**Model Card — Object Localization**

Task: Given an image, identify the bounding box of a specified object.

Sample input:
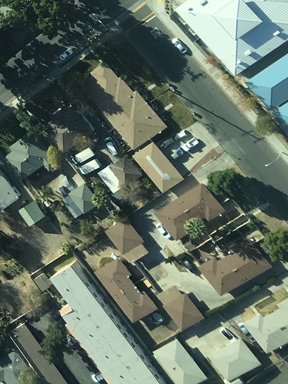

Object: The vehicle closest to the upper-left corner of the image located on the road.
[59,48,74,61]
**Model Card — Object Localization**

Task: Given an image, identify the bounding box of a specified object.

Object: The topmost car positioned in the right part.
[172,37,188,53]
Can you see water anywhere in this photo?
No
